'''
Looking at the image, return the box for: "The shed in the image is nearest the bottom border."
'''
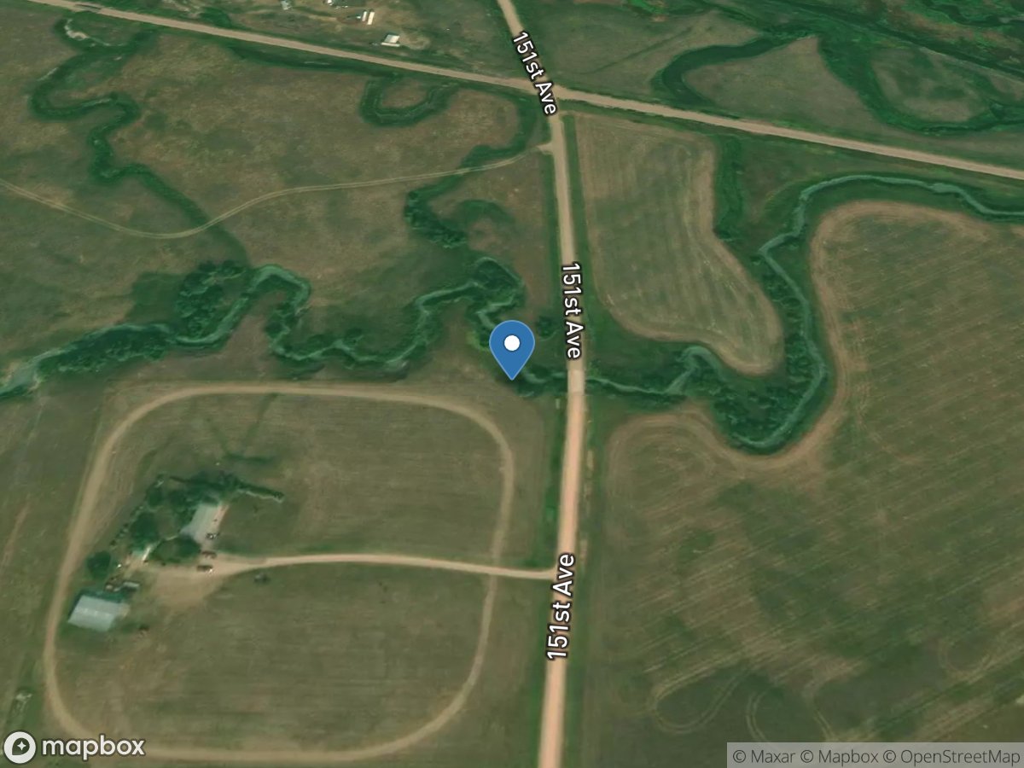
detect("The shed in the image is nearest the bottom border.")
[67,592,122,632]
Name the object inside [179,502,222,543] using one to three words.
house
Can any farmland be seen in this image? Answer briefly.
Yes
